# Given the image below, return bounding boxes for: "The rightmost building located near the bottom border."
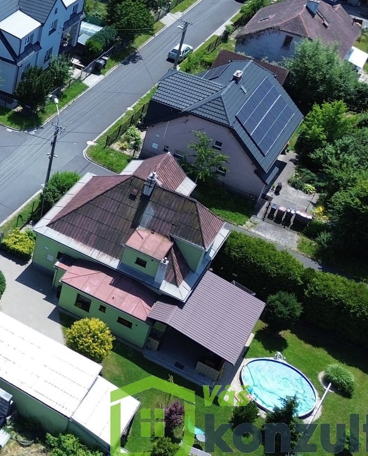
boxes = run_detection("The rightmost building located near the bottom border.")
[67,375,153,456]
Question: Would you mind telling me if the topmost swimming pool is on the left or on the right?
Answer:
right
